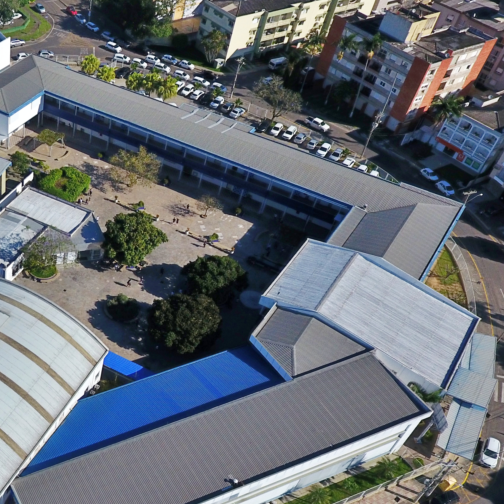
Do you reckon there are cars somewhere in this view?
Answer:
Yes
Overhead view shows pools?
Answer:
No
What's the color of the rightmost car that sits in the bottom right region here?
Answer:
white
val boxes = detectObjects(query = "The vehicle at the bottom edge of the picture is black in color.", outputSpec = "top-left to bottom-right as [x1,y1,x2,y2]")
[428,490,462,504]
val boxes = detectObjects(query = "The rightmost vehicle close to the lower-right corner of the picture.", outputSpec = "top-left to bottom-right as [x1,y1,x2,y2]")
[480,436,502,468]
